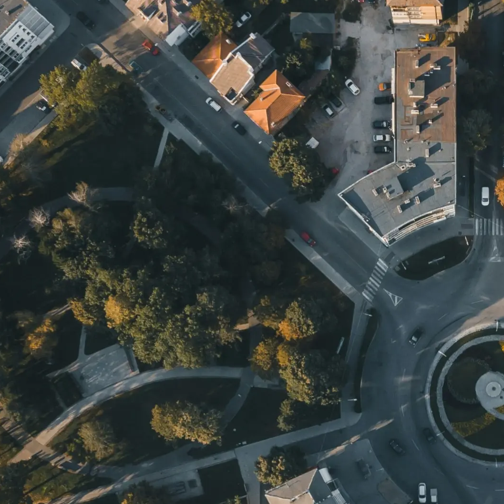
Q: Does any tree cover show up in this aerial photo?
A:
Yes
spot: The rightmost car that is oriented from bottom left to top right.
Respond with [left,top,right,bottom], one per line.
[410,328,423,344]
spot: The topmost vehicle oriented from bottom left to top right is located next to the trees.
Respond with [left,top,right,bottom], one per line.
[236,12,253,29]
